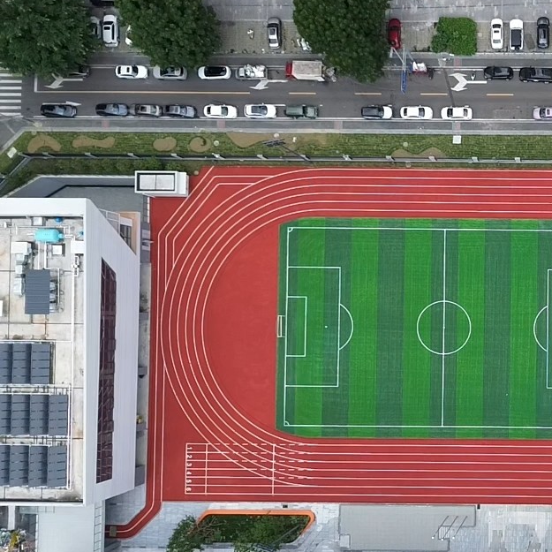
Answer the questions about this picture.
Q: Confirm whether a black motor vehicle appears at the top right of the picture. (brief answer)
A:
Yes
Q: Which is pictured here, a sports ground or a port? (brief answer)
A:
sports ground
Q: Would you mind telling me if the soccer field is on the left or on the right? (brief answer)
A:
right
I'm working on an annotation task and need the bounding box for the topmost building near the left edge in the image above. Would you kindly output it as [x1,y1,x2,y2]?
[0,199,144,505]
